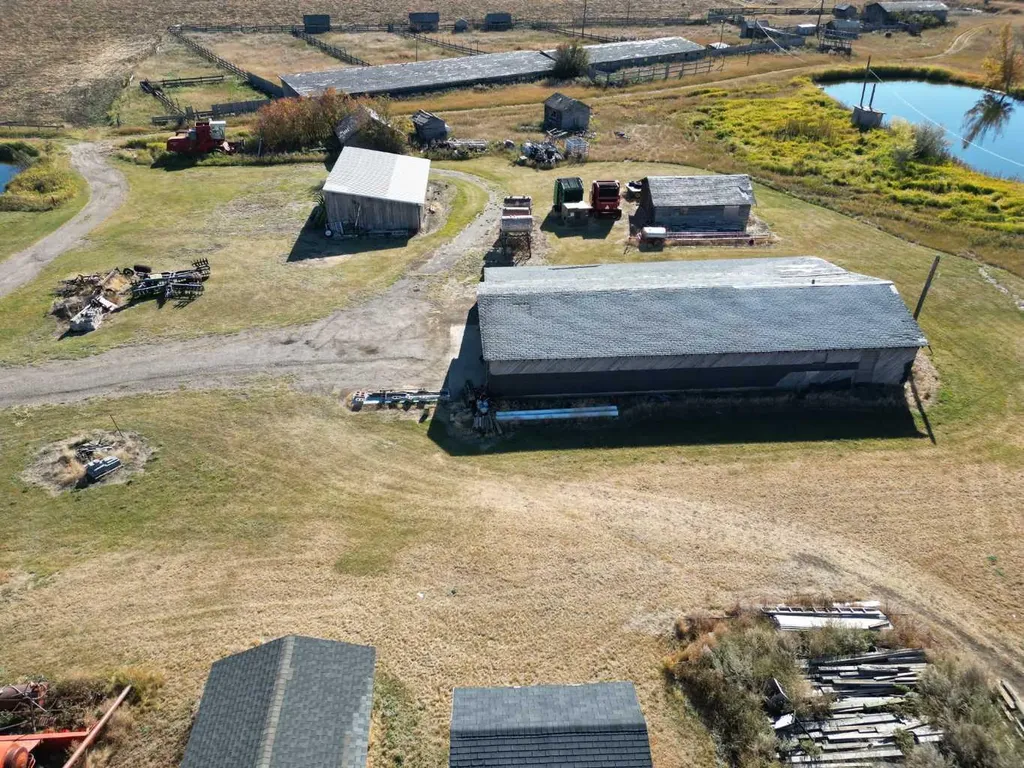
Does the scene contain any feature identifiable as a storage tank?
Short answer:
Yes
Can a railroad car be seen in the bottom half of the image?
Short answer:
No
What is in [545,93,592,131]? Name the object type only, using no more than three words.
shed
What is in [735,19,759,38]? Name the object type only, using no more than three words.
shed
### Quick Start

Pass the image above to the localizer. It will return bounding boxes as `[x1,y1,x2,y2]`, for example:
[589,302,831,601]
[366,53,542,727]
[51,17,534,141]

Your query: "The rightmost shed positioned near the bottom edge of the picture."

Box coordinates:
[449,680,650,768]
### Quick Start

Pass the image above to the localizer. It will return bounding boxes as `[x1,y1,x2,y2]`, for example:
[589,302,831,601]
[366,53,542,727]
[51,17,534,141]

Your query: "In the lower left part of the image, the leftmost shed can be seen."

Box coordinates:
[178,633,377,768]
